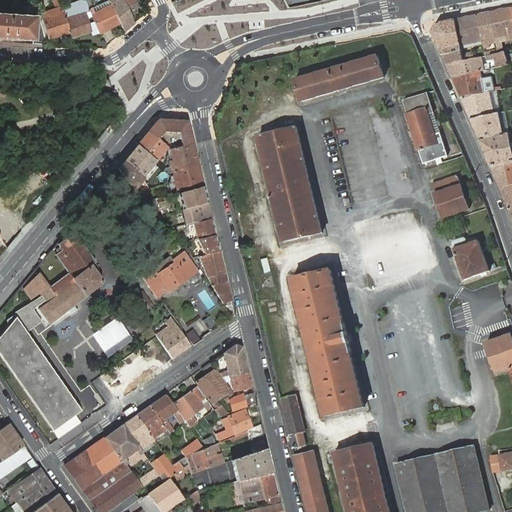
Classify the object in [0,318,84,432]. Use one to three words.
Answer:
building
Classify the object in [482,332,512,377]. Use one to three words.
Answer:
house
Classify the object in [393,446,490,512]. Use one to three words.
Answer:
building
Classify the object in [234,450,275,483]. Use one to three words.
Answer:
house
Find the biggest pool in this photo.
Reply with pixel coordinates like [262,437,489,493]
[198,290,214,310]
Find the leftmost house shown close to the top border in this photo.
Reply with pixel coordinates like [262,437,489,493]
[0,13,42,48]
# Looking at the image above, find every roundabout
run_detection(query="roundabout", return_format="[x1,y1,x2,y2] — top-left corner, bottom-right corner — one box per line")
[154,48,230,112]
